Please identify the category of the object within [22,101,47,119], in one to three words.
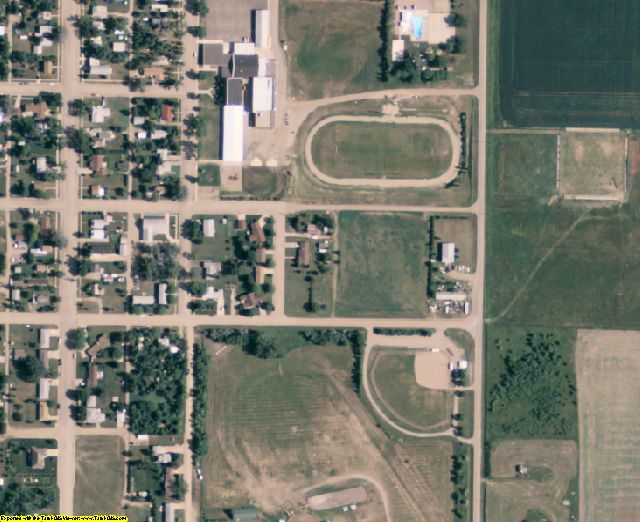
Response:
house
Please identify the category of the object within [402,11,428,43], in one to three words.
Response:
swimming pool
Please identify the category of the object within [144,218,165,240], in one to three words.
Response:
building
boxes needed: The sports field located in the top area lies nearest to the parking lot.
[312,122,455,180]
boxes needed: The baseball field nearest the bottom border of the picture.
[372,349,453,429]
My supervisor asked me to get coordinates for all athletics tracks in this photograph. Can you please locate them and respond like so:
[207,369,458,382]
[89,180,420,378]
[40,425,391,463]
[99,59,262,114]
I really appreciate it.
[305,115,462,188]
